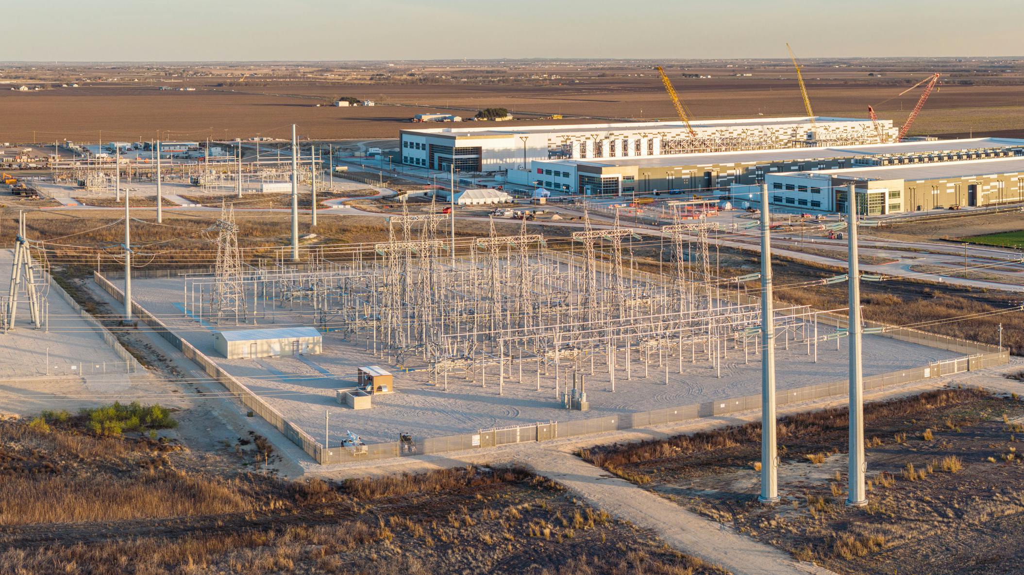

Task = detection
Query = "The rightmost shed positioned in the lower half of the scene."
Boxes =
[359,367,393,396]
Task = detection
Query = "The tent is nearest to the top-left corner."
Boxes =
[455,186,507,204]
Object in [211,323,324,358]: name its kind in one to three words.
building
